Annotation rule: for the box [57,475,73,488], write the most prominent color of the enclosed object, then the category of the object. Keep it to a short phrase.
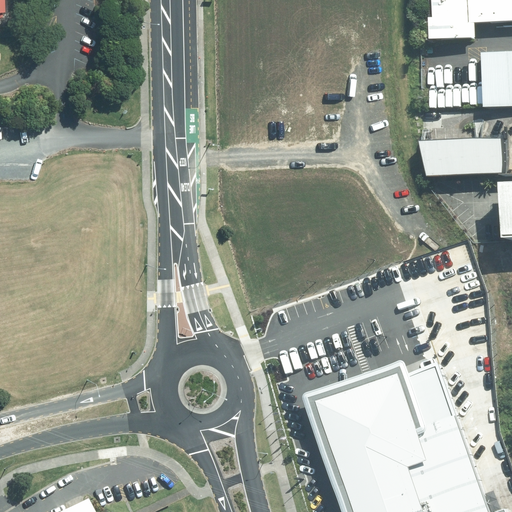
white vehicle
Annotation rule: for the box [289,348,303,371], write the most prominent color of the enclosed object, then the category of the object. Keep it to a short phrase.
white vehicle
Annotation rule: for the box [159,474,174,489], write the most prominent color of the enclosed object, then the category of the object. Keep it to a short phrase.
blue vehicle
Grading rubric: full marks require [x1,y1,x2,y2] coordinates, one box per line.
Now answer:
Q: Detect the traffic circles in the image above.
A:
[160,346,246,432]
